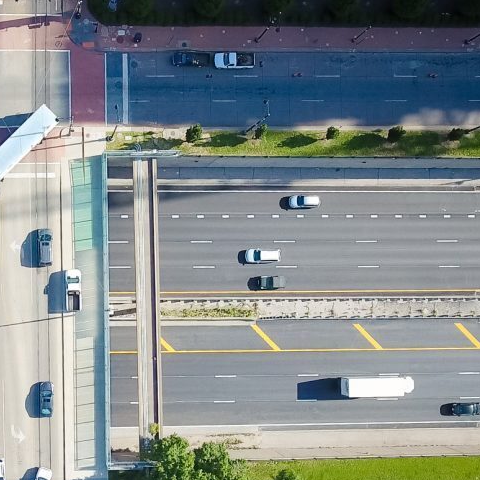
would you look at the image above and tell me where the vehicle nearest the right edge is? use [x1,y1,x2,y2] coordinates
[450,401,480,417]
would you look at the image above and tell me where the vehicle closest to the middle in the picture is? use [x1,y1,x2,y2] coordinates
[244,247,282,264]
